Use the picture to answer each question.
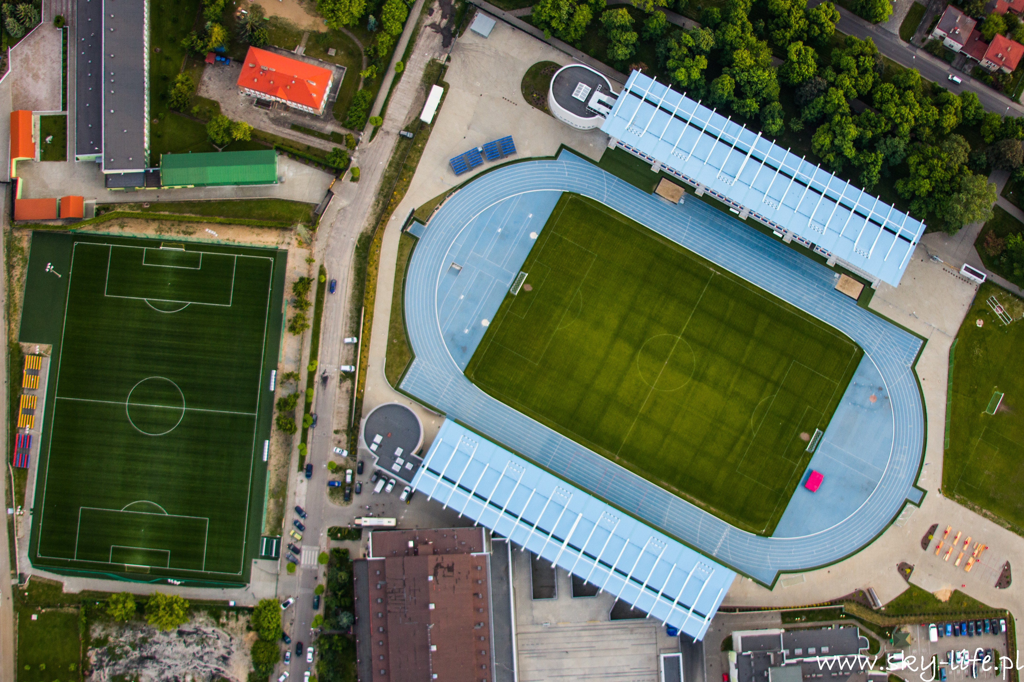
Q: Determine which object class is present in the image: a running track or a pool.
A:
running track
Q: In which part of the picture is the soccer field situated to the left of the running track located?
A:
left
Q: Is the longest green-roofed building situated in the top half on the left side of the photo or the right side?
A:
left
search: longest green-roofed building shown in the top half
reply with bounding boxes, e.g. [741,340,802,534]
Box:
[162,150,278,187]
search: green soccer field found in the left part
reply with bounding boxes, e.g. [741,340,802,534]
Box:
[18,231,288,587]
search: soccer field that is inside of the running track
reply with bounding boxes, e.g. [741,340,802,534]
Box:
[464,191,866,538]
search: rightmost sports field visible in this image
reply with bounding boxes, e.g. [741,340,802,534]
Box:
[943,284,1024,537]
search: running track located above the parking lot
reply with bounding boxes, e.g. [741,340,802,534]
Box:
[393,143,931,593]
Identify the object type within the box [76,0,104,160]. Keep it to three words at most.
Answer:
building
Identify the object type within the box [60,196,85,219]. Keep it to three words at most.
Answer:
shed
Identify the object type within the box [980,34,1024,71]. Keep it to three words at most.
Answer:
house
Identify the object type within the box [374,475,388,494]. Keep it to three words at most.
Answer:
vehicle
